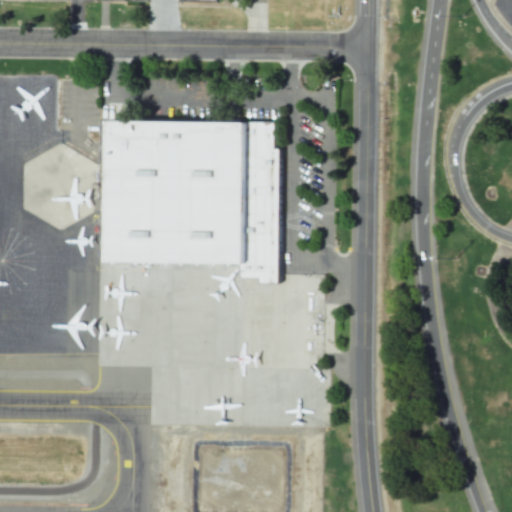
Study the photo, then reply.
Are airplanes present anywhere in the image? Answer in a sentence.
Yes, the frame does contain an airplane.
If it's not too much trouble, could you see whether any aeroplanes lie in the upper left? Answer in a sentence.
Yes, you'll find an aeroplane in the upper left.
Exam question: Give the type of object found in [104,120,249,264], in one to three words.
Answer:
hangar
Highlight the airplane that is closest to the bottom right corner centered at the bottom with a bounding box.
[286,398,315,426]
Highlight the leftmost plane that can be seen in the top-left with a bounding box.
[11,86,50,120]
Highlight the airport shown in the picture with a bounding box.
[0,76,335,512]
